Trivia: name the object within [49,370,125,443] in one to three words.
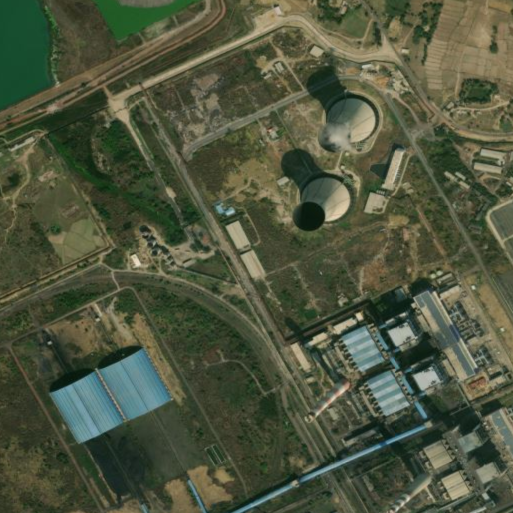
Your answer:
shed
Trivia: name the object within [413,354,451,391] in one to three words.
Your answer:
building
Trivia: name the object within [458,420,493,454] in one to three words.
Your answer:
building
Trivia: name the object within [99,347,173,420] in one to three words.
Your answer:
shed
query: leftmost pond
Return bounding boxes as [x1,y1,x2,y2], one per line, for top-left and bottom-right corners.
[0,0,54,109]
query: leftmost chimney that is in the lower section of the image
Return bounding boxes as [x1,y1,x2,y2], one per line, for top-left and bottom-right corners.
[307,379,350,425]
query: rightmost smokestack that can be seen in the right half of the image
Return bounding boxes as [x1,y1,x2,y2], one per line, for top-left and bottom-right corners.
[394,473,434,513]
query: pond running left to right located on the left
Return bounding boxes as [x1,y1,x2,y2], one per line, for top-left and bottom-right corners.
[94,0,200,40]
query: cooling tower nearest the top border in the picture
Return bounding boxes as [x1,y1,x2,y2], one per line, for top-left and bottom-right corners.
[318,91,382,153]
